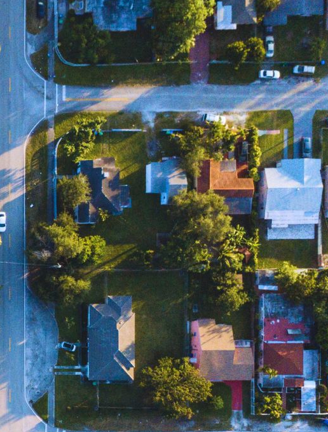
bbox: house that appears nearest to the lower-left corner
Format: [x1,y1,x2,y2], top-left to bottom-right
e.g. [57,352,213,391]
[85,295,136,382]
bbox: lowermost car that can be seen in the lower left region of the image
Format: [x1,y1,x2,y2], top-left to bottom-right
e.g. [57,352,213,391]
[57,339,78,352]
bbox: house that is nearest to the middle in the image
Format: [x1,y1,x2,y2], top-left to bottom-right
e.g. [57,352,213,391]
[140,161,188,206]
